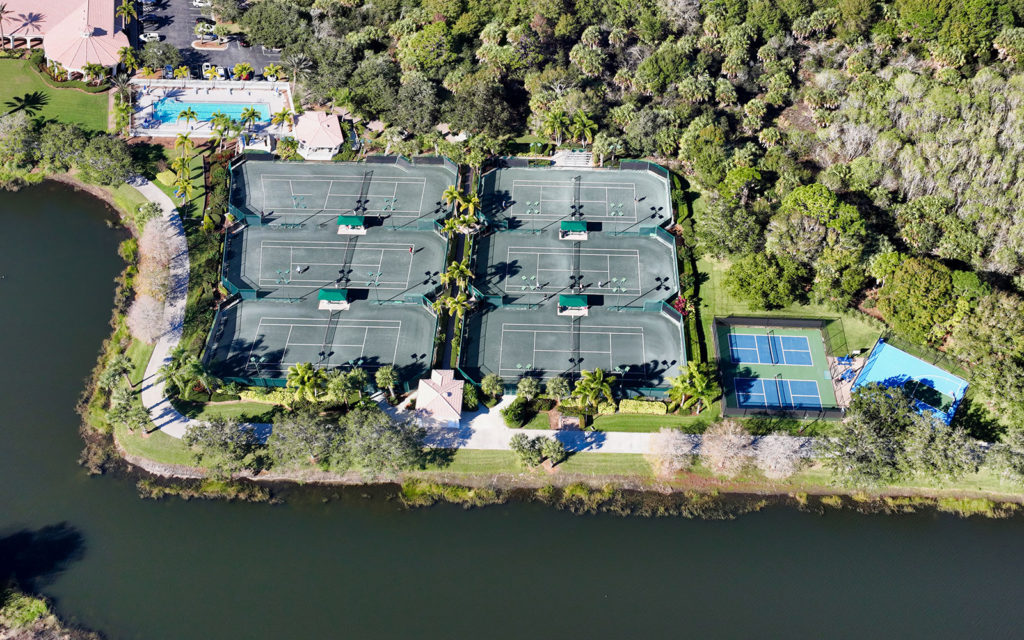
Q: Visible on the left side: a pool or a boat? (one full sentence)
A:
The one visible on the left side is a pool.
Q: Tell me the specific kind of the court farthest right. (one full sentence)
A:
In the photo, the court farthest right shows up as a basketball court.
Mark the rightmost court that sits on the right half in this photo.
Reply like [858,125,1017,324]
[852,342,969,425]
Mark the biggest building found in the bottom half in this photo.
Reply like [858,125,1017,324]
[413,368,465,428]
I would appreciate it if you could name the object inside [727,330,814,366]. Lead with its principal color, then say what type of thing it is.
blue sports court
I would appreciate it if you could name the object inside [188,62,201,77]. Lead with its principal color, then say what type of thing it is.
black vehicle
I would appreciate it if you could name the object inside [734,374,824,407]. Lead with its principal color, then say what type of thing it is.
blue sports court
